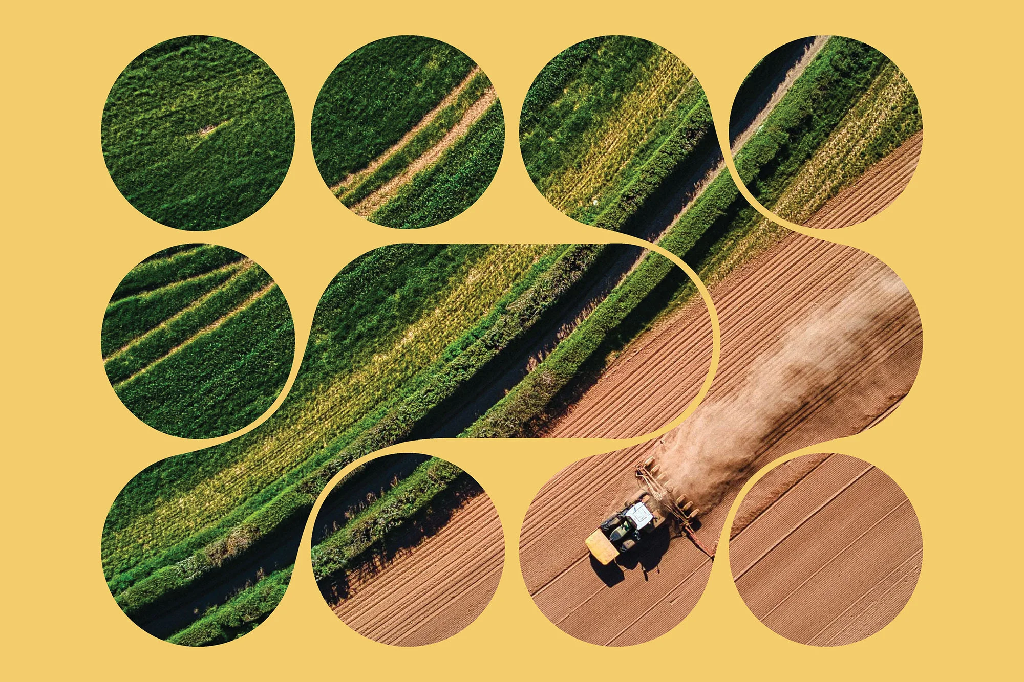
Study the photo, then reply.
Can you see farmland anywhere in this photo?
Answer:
Yes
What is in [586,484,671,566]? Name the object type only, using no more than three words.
work vehicle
